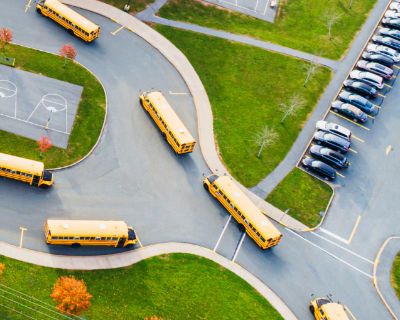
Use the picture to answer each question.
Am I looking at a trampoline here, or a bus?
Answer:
bus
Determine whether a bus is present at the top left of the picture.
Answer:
Yes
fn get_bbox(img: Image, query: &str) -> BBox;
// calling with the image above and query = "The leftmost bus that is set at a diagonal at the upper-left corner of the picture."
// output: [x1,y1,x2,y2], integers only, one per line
[33,0,100,48]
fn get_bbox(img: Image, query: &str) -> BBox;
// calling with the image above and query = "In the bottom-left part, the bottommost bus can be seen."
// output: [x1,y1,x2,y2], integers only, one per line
[42,222,142,249]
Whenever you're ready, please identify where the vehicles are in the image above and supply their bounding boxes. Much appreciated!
[201,172,280,253]
[301,158,340,182]
[387,11,400,19]
[139,89,195,158]
[342,79,379,99]
[0,155,58,191]
[331,101,367,122]
[315,120,352,141]
[313,132,352,155]
[42,222,142,249]
[361,51,395,69]
[33,0,100,48]
[384,18,400,31]
[358,60,393,80]
[349,68,385,89]
[339,92,375,113]
[371,34,400,54]
[309,146,348,169]
[379,27,400,40]
[305,287,347,320]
